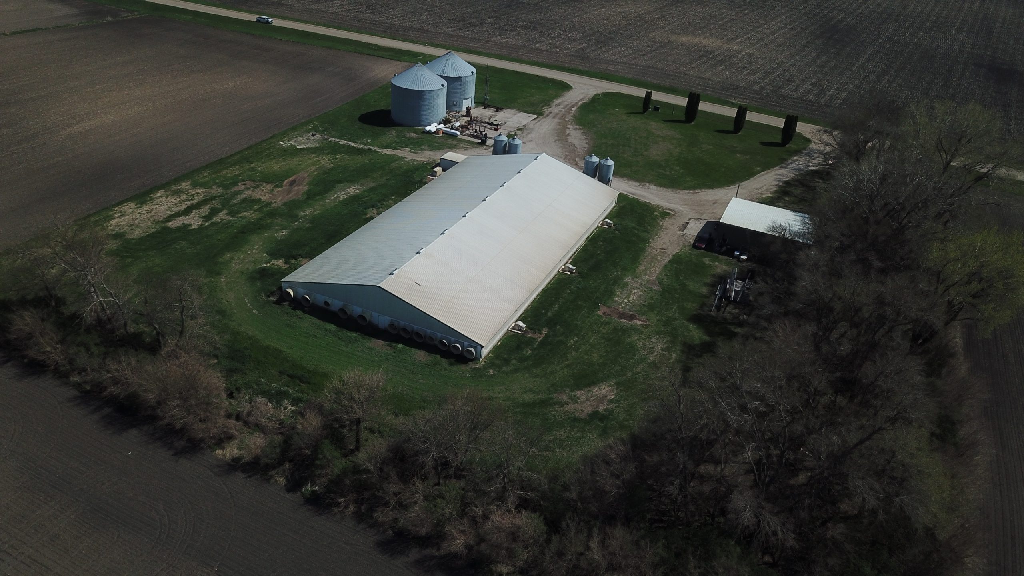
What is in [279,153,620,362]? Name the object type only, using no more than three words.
barn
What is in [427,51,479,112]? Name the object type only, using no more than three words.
silo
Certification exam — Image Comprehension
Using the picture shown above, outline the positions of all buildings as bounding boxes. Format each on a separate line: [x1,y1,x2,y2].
[716,196,819,264]
[279,153,620,362]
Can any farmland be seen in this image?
Yes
